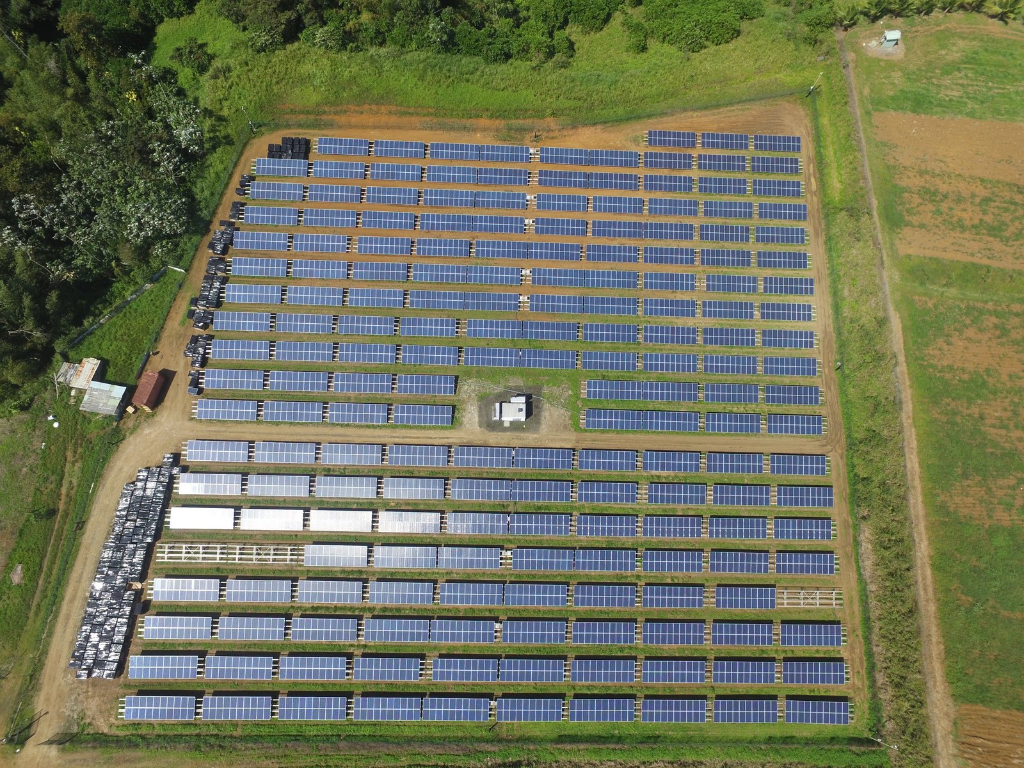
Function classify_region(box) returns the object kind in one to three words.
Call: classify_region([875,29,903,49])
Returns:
building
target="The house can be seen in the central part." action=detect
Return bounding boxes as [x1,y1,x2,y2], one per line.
[502,403,526,421]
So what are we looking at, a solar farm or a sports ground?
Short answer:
solar farm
